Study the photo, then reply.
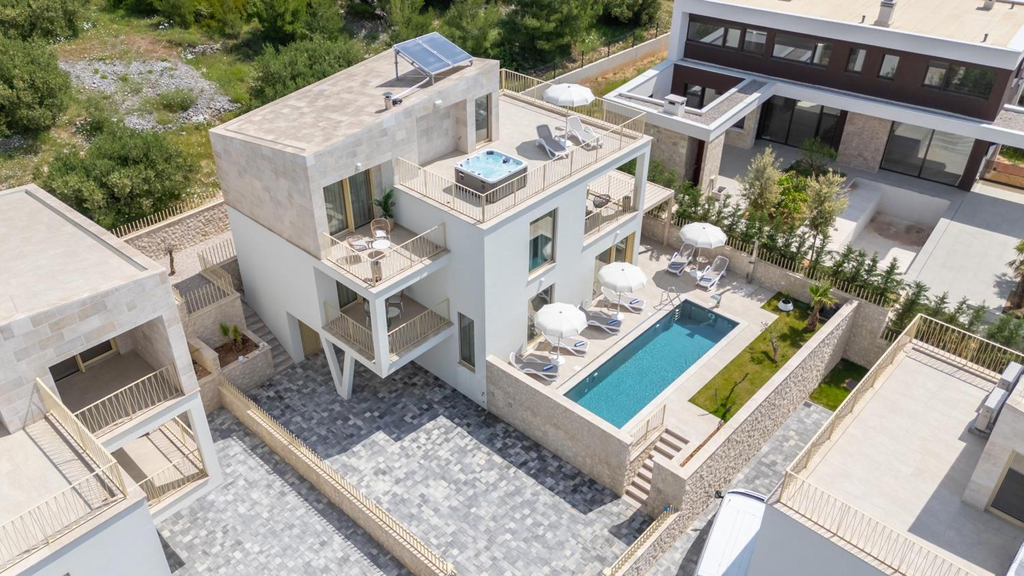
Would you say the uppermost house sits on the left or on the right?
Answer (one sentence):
The uppermost house appears in the right half of the scene.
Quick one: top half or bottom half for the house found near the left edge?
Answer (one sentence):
The house found near the left edge is in the bottom half of the image.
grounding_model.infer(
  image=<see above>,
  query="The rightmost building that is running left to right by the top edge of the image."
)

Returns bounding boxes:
[605,0,1024,192]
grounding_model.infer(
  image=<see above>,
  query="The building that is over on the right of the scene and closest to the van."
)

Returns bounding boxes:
[749,314,1024,576]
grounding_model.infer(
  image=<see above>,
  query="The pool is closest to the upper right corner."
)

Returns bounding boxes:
[805,178,951,277]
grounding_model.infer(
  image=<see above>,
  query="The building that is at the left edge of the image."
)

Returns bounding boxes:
[0,182,226,576]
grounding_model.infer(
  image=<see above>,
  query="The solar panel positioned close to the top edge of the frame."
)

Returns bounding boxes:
[391,23,475,102]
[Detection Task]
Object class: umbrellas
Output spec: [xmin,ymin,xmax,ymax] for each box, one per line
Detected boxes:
[676,224,724,277]
[532,304,587,365]
[544,84,596,146]
[597,263,647,320]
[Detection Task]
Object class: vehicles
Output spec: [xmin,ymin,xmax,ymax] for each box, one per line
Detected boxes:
[680,501,764,576]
